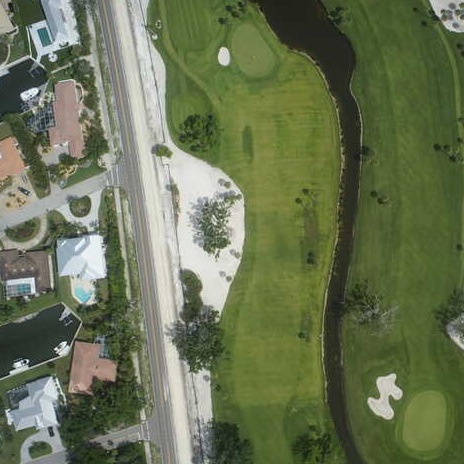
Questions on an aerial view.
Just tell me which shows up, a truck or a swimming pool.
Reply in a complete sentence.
The one in the frame is a swimming pool.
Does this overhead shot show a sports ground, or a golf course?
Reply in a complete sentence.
What you see here is a golf course.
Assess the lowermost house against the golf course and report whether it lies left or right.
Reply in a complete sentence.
Looking at the photo, the lowermost house lies to the left of the golf course.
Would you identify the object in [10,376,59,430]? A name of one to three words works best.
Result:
house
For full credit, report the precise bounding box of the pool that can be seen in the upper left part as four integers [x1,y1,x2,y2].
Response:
[37,27,51,47]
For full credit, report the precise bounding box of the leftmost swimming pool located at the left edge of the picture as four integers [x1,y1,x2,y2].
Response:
[7,278,36,297]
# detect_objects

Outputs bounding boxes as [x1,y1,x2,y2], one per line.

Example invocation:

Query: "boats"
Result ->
[18,88,39,100]
[54,342,69,355]
[13,359,29,368]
